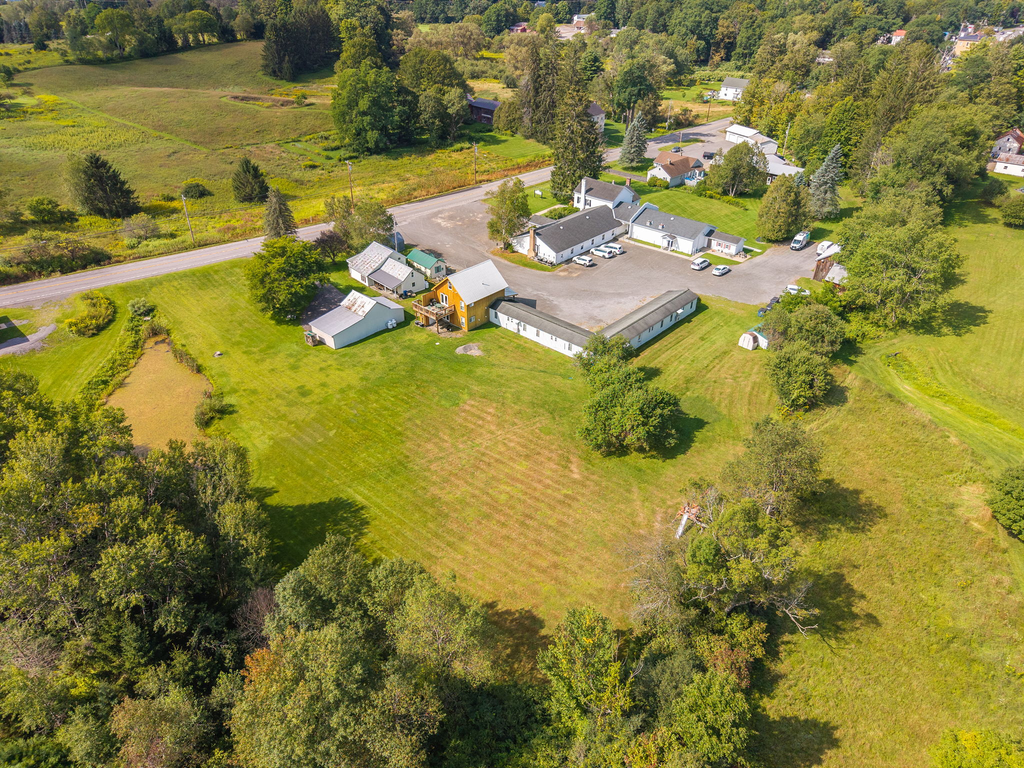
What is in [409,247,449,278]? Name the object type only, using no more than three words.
house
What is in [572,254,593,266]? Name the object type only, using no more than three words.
vehicle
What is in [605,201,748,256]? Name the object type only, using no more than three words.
building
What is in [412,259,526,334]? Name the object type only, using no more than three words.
house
